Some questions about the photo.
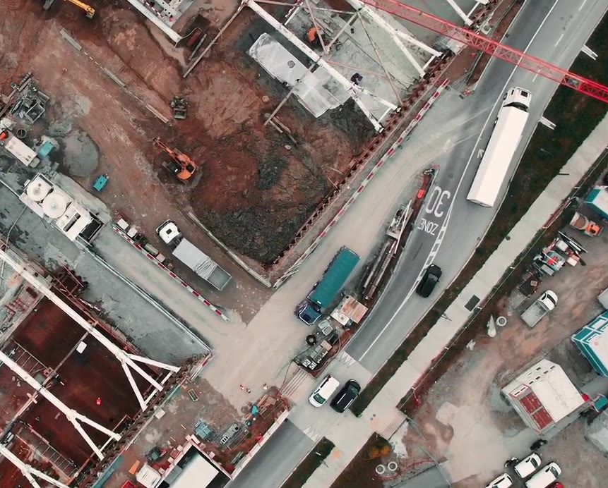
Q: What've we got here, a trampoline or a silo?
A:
silo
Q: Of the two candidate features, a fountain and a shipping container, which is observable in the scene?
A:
shipping container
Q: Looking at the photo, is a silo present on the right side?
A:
No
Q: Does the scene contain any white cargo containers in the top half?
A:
Yes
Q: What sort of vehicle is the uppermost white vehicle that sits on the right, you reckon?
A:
truck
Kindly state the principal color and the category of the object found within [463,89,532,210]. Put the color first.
white truck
